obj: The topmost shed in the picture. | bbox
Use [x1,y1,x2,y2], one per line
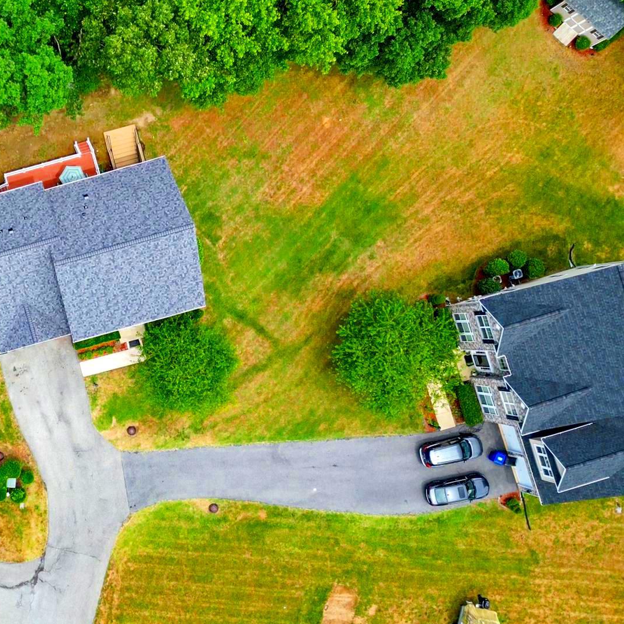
[550,0,624,56]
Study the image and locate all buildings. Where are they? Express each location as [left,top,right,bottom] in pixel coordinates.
[550,0,624,56]
[0,155,207,354]
[451,254,624,508]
